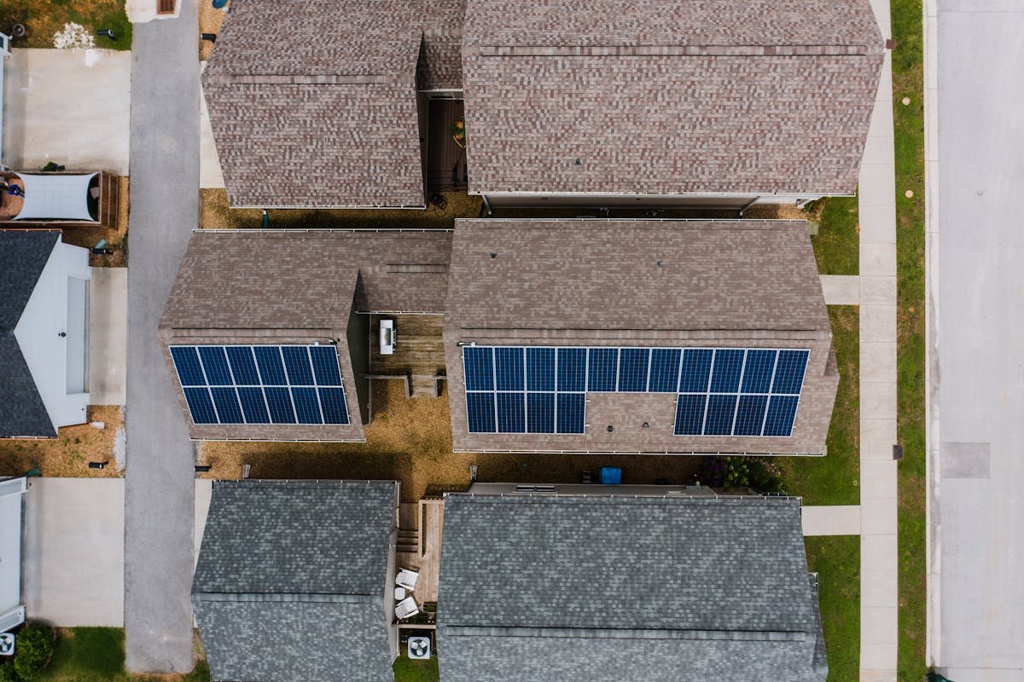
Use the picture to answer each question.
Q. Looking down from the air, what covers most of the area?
buildings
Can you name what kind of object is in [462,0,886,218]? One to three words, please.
house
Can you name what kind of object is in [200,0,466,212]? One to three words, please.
building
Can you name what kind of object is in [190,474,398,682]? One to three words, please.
building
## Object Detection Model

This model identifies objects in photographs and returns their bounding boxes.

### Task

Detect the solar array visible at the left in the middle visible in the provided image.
[167,346,349,424]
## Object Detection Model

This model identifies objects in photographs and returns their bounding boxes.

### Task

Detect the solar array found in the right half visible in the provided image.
[461,347,810,437]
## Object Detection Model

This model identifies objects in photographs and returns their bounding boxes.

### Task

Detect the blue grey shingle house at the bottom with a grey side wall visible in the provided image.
[437,478,829,682]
